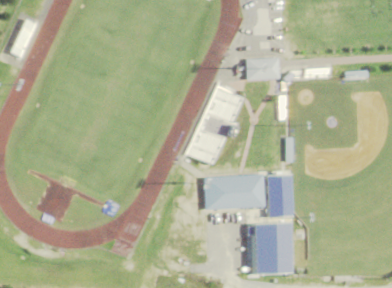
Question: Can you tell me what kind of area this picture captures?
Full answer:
It's a sports ground.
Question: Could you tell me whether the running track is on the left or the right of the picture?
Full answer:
The running track sits on the left side.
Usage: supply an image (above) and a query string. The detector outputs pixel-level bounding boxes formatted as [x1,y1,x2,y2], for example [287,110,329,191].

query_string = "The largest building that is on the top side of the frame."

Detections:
[245,58,280,82]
